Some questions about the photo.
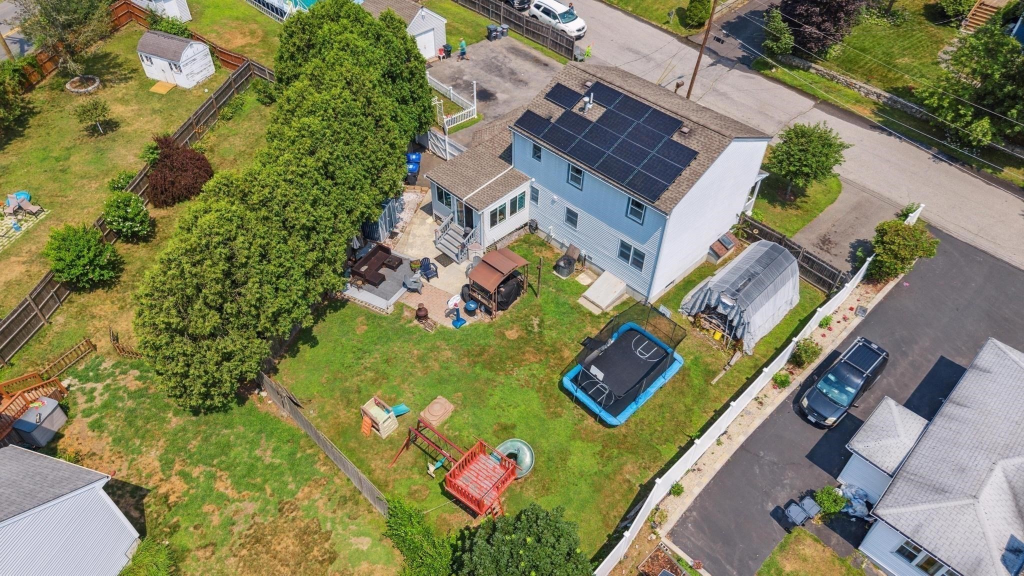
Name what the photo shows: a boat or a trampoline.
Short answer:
trampoline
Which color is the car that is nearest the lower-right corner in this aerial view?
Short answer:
blue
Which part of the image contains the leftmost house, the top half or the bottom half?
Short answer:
bottom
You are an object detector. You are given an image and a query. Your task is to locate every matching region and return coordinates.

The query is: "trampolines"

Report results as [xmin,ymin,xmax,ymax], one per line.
[565,302,685,423]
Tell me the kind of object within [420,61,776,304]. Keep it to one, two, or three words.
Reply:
house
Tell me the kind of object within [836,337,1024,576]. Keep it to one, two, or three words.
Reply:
house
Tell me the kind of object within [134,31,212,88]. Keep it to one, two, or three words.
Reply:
shed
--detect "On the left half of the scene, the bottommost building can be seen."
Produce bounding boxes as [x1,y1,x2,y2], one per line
[0,439,137,576]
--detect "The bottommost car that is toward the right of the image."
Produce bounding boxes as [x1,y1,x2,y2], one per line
[800,330,891,428]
